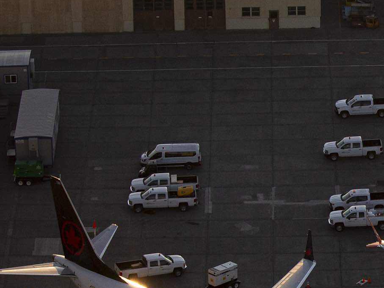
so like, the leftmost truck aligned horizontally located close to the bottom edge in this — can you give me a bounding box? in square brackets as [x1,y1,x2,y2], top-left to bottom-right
[115,252,188,282]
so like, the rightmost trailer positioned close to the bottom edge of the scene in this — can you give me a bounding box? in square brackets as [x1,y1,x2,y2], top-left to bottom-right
[196,259,243,288]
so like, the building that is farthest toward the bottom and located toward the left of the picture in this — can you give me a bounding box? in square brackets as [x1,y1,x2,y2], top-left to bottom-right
[14,86,60,166]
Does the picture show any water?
No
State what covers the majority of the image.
paved ground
